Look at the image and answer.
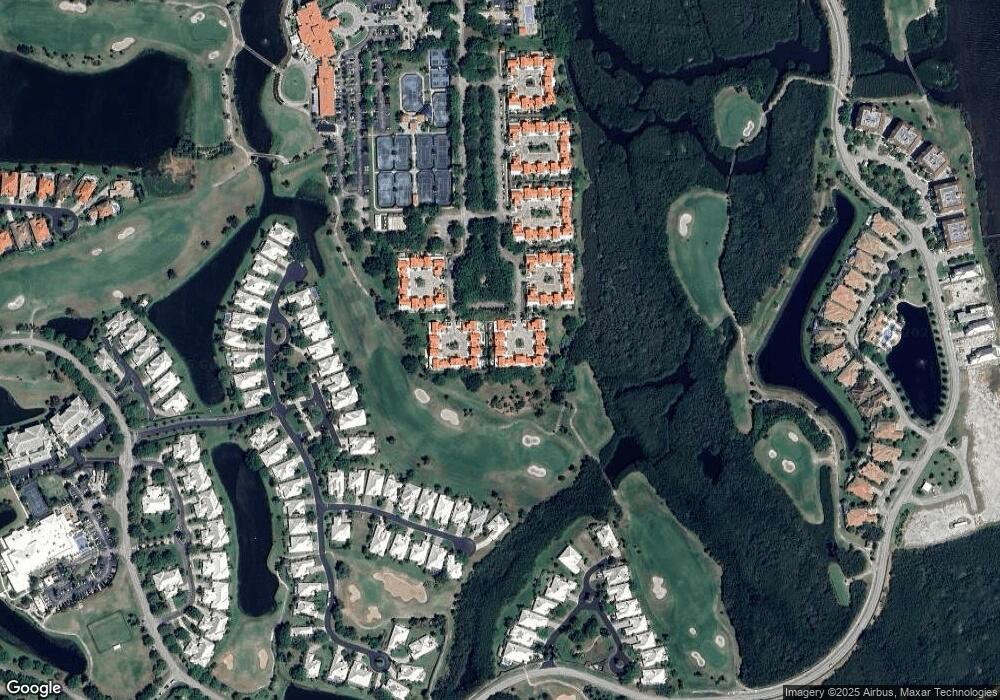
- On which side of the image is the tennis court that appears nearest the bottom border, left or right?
left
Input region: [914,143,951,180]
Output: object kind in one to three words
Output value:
building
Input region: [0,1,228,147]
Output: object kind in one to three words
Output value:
golf course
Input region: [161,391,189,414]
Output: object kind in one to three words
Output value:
house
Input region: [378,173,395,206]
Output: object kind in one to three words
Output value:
tennis court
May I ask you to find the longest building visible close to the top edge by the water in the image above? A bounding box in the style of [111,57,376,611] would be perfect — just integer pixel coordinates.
[293,2,342,118]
